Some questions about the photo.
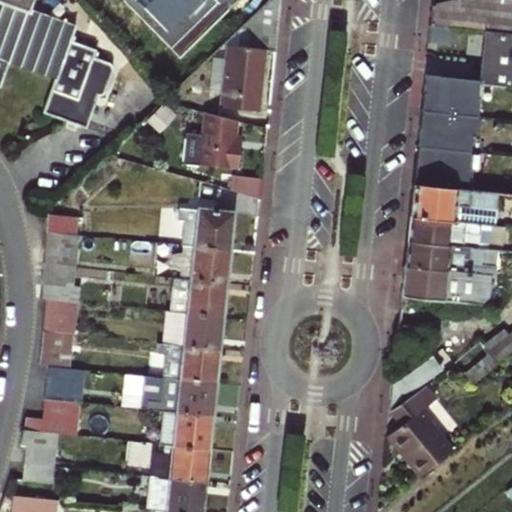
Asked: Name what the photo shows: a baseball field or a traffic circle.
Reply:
traffic circle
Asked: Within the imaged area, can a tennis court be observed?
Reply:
No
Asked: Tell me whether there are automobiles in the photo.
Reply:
Yes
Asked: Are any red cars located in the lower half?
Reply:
Yes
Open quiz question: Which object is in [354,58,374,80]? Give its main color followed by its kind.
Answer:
white car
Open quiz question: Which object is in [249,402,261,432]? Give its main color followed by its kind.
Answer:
white vehicle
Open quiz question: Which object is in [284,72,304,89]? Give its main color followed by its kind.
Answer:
white car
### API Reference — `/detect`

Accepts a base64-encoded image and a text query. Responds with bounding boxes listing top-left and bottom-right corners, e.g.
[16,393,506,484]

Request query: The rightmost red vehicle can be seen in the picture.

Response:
[316,160,334,180]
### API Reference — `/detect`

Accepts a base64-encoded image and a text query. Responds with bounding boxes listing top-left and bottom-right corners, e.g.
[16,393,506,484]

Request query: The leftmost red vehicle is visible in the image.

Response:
[244,446,264,464]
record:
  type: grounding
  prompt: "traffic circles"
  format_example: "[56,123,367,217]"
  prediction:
[260,288,382,402]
